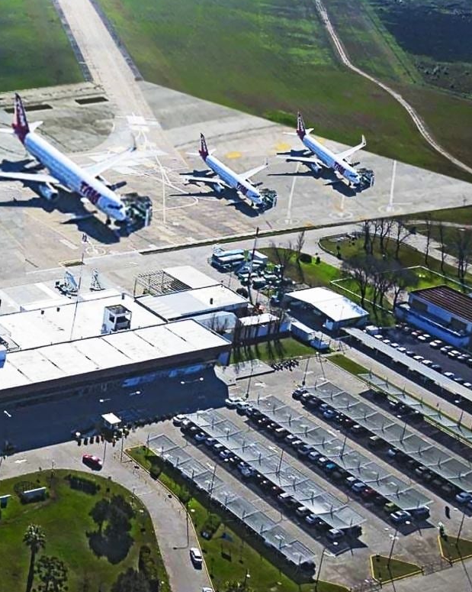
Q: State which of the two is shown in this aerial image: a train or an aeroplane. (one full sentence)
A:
Visible in the photo is an aeroplane.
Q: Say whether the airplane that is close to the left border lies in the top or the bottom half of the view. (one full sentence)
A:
Seen from above, the airplane that is close to the left border lies in the top half of the view.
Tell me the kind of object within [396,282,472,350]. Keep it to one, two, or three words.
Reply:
building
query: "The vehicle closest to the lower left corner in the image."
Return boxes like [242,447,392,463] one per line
[83,455,101,468]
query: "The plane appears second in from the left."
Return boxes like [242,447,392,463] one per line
[174,132,267,208]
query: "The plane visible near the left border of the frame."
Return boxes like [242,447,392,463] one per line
[0,91,133,228]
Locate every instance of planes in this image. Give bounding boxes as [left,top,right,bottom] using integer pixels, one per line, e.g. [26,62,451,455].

[272,111,365,186]
[174,132,267,208]
[0,91,133,228]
